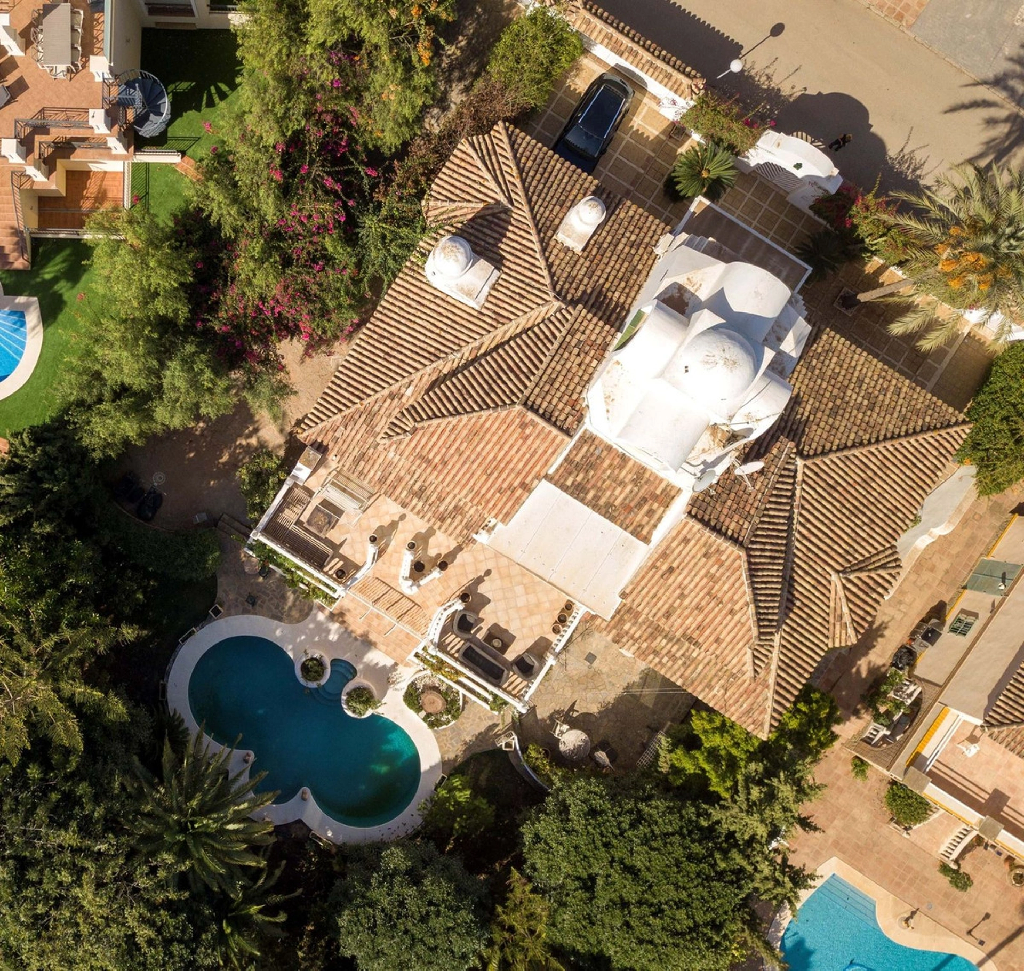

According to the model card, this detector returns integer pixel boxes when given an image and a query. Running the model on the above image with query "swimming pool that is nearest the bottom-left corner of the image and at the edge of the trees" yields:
[188,636,421,828]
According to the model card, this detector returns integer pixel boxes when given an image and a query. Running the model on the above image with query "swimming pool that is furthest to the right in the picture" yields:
[778,875,979,971]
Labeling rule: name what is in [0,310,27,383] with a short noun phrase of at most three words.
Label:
swimming pool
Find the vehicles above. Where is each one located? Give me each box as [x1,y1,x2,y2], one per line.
[554,67,636,174]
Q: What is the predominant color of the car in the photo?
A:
black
